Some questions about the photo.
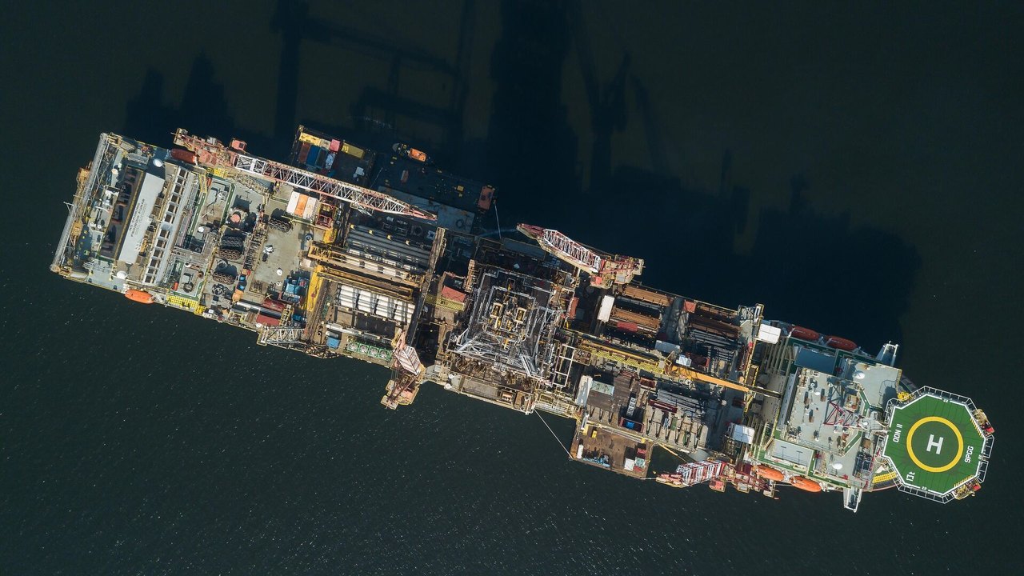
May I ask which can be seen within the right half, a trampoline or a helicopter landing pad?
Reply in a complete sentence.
It is a helicopter landing pad that can be seen within the right half.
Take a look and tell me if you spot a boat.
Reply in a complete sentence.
Yes, the image includes a boat.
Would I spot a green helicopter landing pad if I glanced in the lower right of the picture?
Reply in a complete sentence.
Yes, a green helicopter landing pad appears in the lower right of the picture.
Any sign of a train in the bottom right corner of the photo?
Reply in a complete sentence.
No, looking in the bottom right corner of the photo, there is no train.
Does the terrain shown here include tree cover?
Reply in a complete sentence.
No, the picture contains no tree cover.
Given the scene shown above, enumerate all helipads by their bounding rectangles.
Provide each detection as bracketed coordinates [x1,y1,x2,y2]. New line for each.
[874,386,995,503]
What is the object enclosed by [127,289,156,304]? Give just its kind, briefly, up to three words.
boat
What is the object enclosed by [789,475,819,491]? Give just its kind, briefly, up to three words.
boat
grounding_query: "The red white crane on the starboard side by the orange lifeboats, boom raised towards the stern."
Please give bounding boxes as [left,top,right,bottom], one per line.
[617,431,779,499]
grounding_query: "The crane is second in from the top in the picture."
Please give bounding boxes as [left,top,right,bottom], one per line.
[510,223,649,299]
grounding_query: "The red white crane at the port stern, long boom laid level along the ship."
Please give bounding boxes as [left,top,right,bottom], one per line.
[171,131,448,224]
